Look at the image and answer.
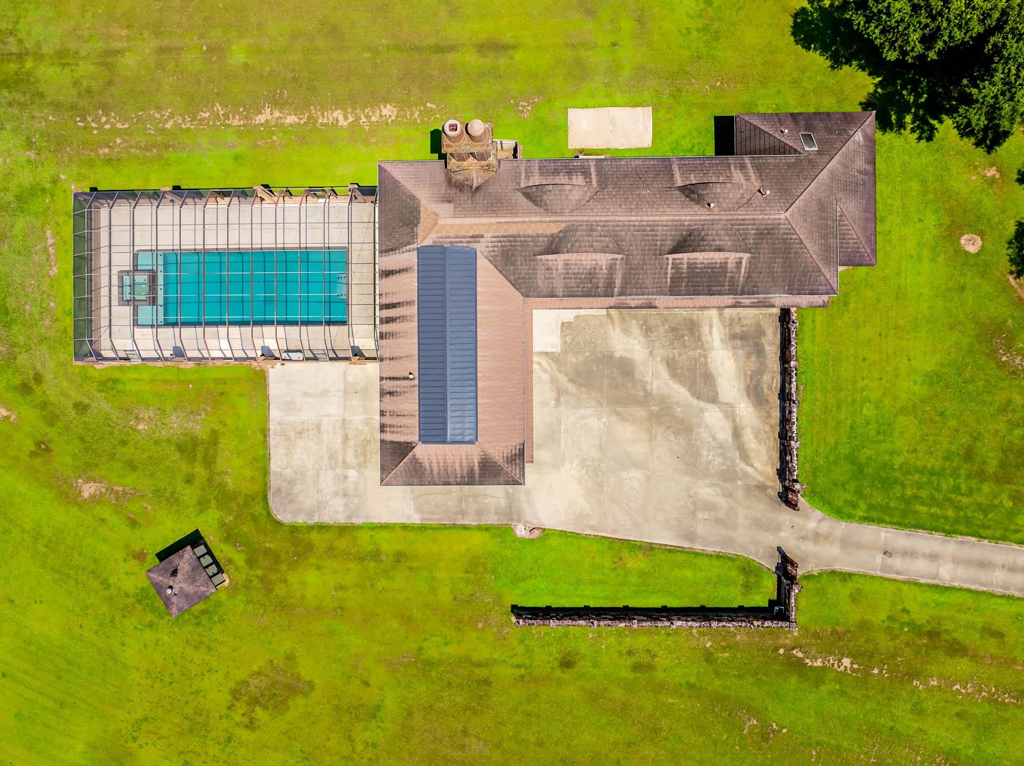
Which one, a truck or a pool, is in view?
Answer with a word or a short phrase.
pool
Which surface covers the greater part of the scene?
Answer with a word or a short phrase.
grass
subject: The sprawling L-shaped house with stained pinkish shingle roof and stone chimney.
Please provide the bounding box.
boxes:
[377,111,877,486]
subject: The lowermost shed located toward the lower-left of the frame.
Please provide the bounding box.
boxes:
[146,542,226,617]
